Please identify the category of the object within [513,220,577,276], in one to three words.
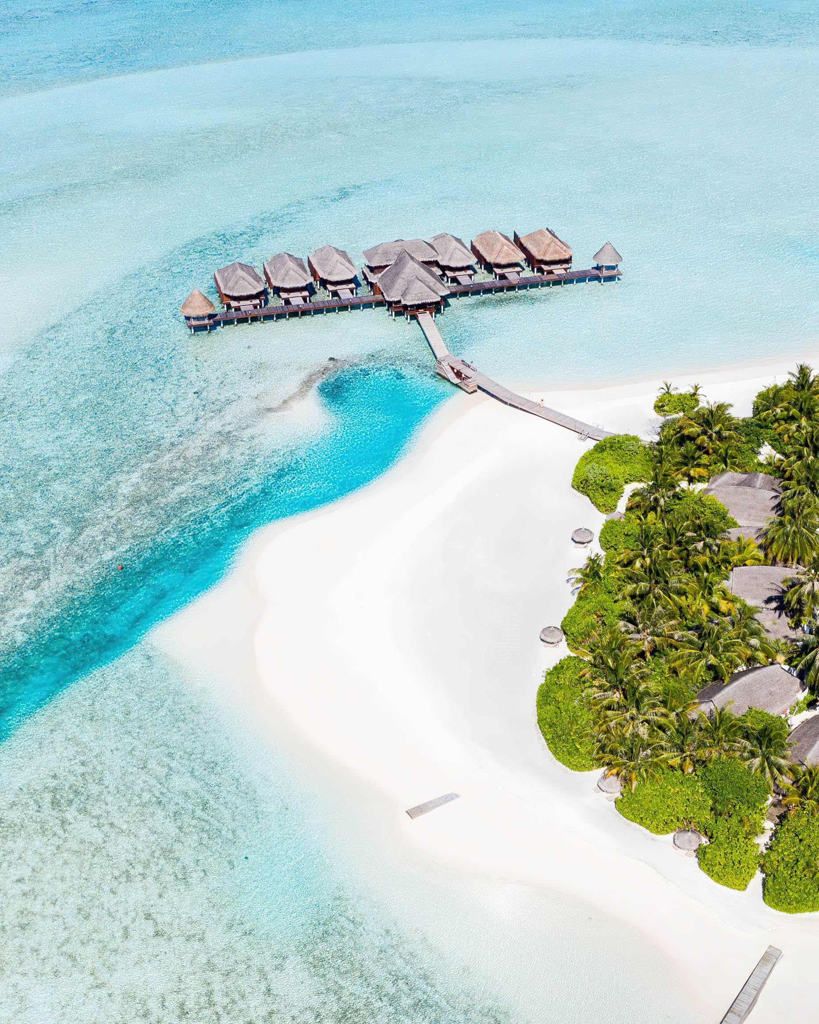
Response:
house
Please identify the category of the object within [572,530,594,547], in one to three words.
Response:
umbrella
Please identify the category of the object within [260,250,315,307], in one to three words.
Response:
house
